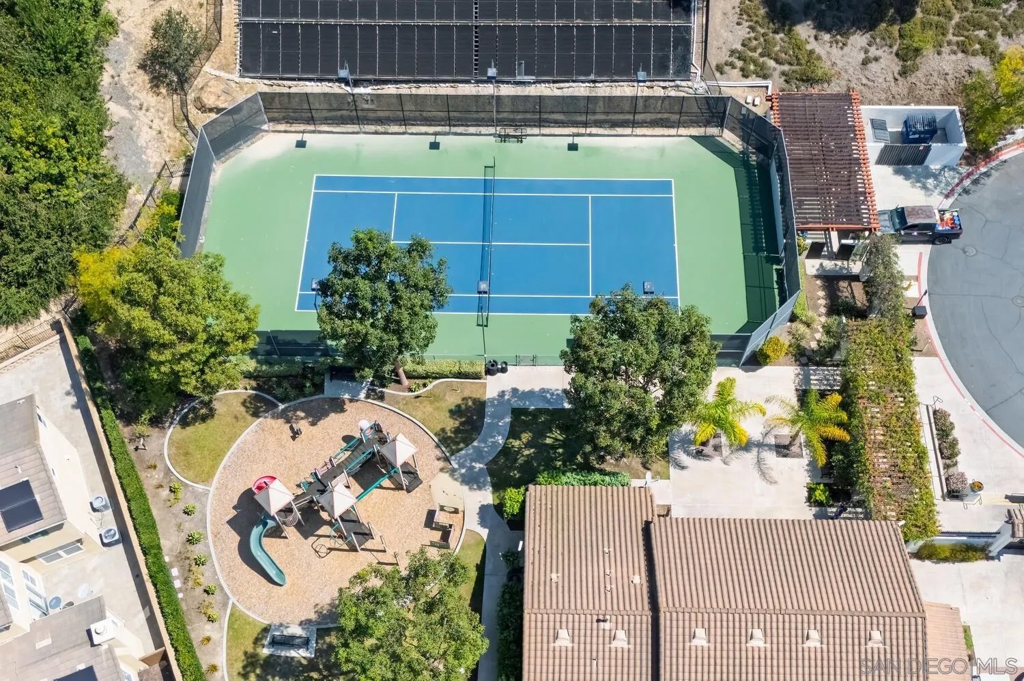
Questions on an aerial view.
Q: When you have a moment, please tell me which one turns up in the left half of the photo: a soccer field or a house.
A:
house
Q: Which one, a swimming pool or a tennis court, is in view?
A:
tennis court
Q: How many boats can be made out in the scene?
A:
none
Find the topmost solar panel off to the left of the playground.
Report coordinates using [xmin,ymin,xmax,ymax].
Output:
[0,467,40,530]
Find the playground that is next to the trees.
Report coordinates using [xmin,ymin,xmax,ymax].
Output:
[203,391,469,632]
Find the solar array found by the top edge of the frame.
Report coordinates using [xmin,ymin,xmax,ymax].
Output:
[229,0,695,84]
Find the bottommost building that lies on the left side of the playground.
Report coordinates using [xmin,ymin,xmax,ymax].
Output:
[0,592,148,681]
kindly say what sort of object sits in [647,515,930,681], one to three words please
building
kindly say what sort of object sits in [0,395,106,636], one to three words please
house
